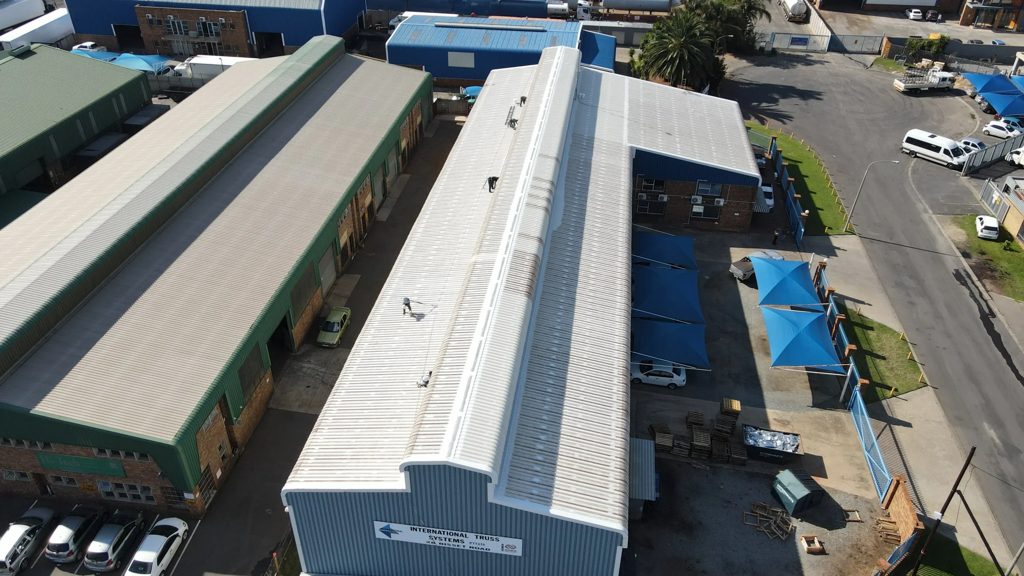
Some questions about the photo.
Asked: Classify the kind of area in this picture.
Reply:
industrial area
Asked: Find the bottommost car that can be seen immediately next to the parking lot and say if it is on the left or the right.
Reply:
right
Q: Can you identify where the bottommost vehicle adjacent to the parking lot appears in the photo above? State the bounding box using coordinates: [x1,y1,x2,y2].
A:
[966,213,1002,237]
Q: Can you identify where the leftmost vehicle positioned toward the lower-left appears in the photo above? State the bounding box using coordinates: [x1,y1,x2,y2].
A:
[0,504,56,575]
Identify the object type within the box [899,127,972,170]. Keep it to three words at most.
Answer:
vehicle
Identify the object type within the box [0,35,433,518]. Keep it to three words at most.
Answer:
warehouse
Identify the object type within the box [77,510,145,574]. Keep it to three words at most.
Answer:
car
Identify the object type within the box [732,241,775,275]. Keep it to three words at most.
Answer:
truck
